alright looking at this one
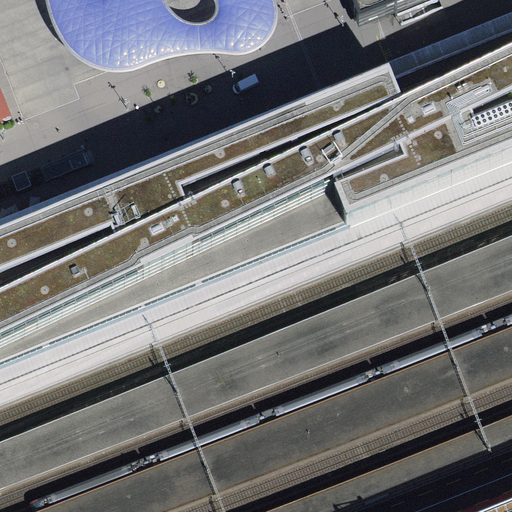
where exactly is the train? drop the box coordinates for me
[30,310,512,512]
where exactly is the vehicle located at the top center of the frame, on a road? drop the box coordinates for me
[233,74,259,94]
